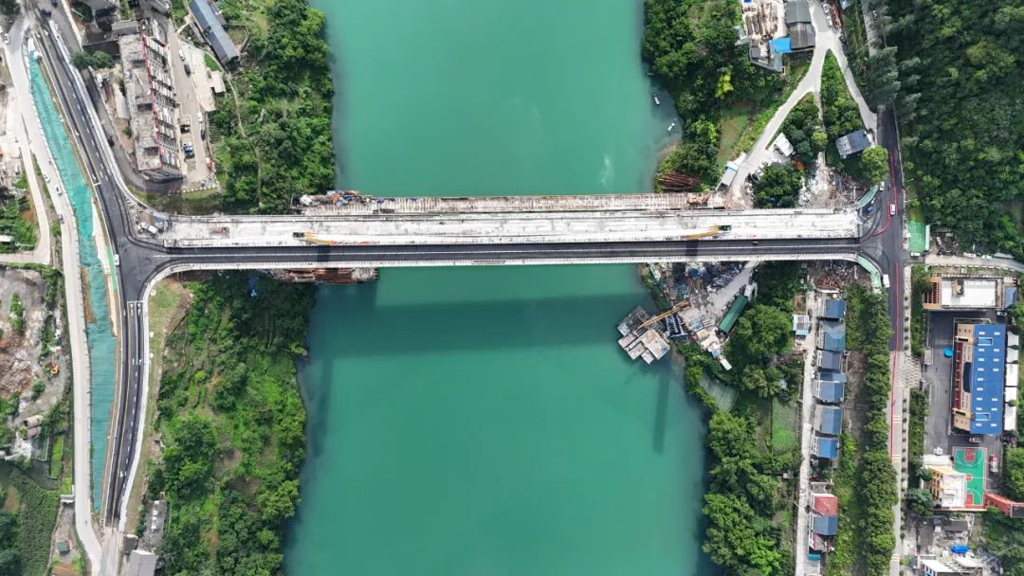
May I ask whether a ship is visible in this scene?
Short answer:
Yes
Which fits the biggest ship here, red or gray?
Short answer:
gray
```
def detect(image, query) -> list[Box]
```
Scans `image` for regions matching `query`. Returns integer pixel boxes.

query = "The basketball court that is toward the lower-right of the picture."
[953,447,987,511]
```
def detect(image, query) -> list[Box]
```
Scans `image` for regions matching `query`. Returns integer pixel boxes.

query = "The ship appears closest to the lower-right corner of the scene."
[617,305,670,364]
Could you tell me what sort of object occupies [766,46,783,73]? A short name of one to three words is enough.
shed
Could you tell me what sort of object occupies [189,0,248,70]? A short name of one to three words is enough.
shed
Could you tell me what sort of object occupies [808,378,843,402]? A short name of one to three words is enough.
house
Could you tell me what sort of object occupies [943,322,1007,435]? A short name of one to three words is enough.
building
